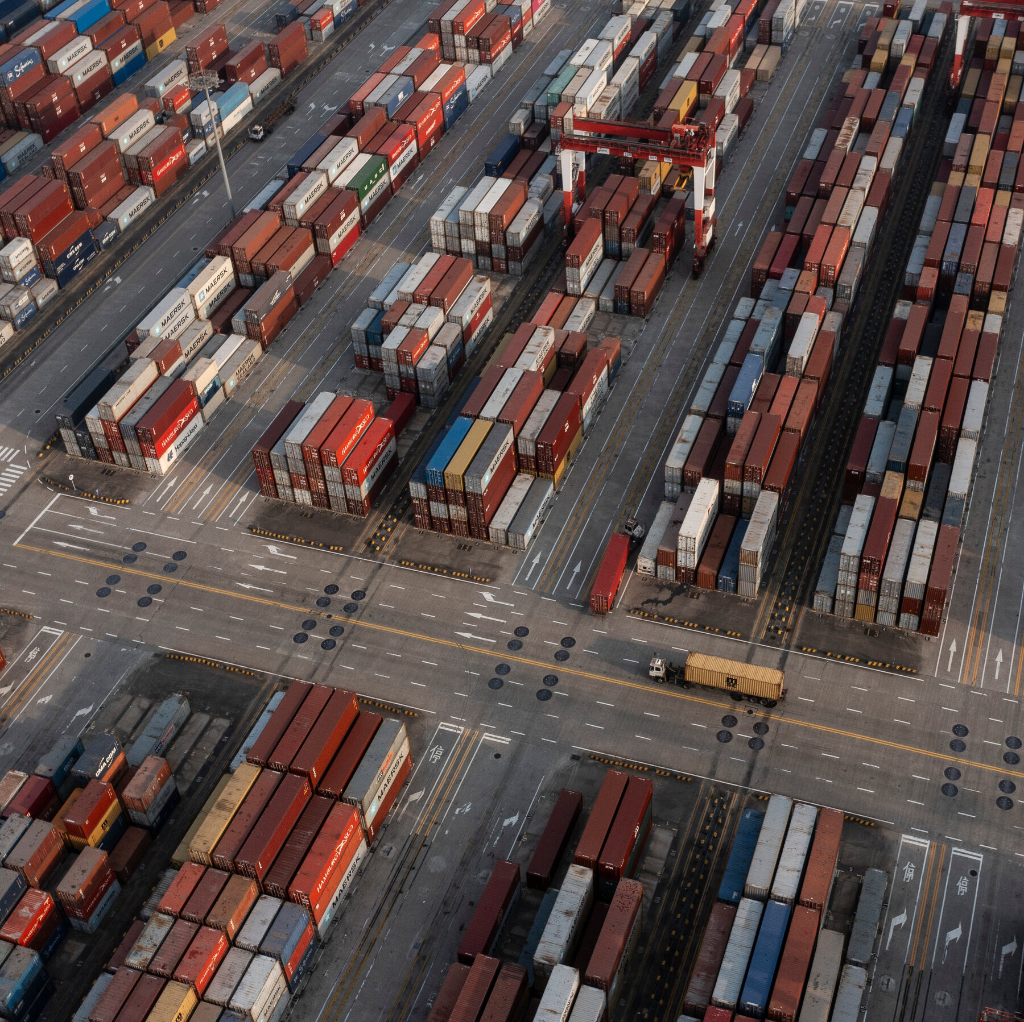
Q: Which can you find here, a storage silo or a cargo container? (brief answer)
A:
cargo container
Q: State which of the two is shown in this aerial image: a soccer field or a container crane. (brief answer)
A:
container crane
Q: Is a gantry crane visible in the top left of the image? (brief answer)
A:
No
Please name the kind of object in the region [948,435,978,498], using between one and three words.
shipping container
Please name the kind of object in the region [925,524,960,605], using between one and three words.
shipping container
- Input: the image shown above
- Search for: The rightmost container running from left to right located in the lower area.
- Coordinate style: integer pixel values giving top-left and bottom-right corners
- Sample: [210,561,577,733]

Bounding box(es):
[686,651,785,701]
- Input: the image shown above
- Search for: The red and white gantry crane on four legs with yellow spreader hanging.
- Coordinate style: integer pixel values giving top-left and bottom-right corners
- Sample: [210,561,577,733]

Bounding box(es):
[553,108,724,276]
